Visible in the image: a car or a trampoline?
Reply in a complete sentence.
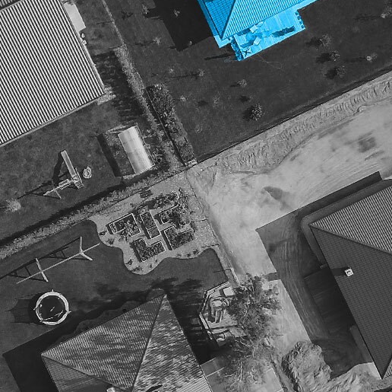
Of the two, only a trampoline appears.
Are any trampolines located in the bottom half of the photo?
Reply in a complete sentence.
Yes, the scene does show a trampoline in the bottom half of the photo.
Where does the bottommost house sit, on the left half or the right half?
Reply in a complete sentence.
It is on the left.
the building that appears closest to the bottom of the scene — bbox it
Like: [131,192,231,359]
[38,295,209,392]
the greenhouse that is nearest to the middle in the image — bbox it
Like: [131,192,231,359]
[118,126,154,175]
